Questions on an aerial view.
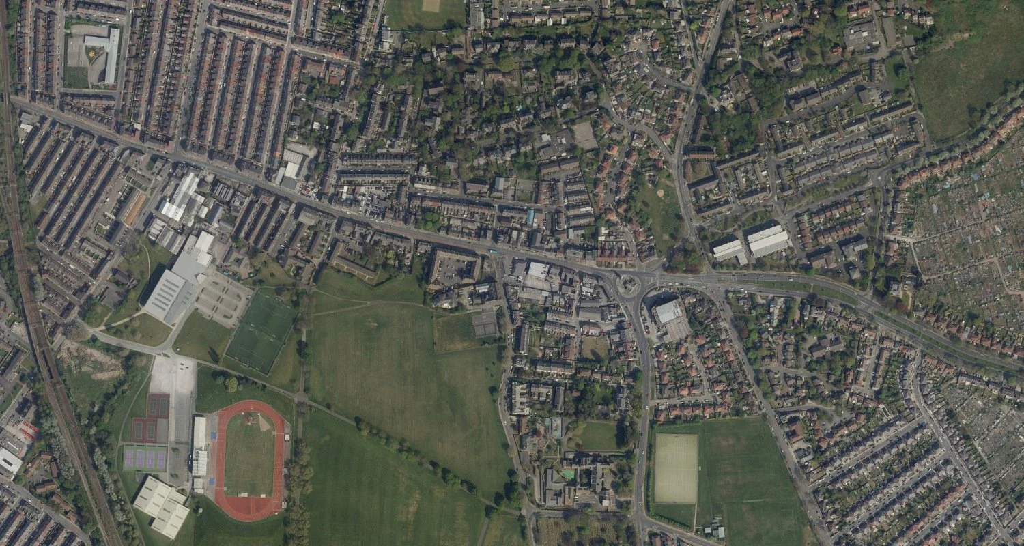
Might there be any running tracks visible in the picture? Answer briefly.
Yes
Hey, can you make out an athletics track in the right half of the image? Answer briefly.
No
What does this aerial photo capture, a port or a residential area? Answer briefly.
residential area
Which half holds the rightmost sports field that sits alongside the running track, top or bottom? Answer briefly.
bottom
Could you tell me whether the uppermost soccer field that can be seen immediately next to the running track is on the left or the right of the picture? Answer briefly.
left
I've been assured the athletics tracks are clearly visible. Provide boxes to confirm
[214,400,285,523]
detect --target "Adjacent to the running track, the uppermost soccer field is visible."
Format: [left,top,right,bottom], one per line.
[224,290,300,376]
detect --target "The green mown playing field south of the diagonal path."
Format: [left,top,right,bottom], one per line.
[296,400,486,546]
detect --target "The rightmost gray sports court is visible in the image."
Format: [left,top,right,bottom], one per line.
[473,313,498,337]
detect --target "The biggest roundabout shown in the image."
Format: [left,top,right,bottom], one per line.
[609,266,649,306]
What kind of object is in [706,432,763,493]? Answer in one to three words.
soccer field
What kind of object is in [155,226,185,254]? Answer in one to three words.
shed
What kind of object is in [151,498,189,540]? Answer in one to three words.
building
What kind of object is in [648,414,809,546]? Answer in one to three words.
sports field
